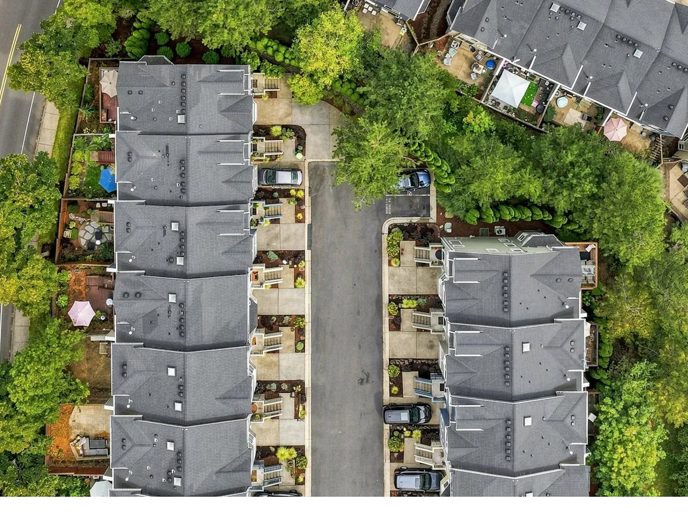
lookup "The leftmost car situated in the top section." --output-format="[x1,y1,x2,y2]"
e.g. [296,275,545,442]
[261,167,304,188]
